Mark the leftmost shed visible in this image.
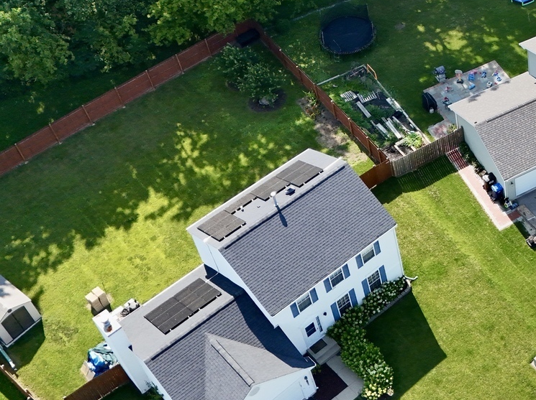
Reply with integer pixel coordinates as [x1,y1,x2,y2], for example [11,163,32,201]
[0,275,44,348]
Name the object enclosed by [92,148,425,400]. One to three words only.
house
